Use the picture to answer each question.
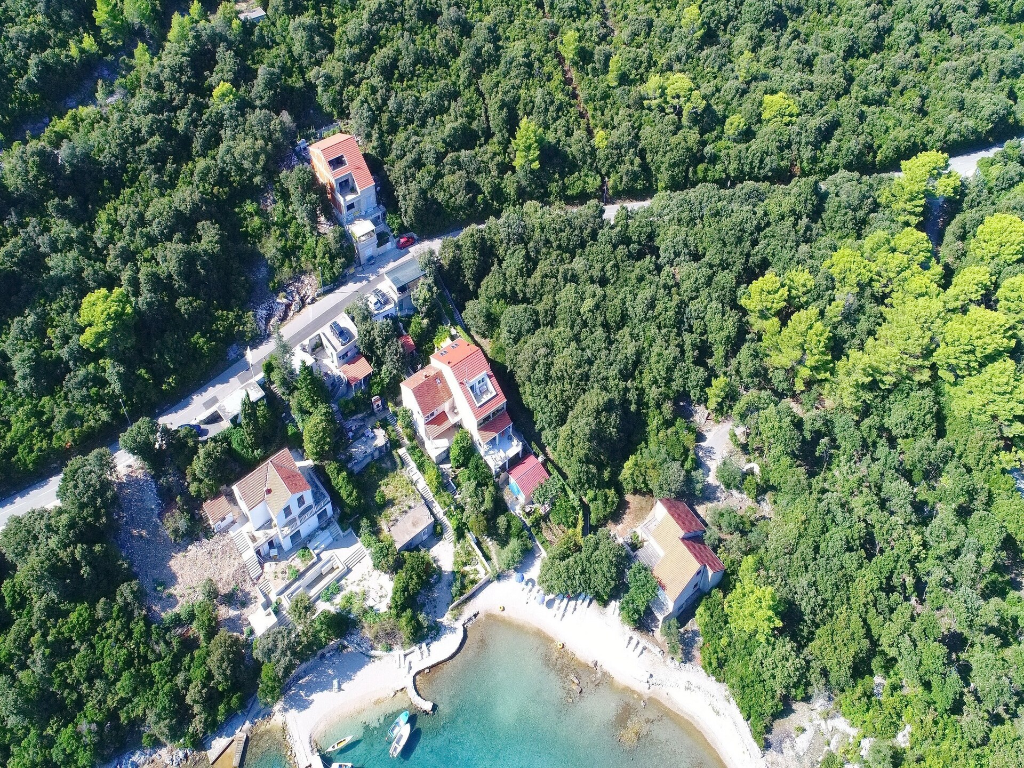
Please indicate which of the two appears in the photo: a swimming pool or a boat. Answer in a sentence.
The one in the frame is a boat.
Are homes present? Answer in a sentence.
Yes, the picture does show a home.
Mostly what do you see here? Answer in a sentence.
The largest share of the image is taken up by trees.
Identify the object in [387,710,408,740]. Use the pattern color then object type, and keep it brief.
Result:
white boat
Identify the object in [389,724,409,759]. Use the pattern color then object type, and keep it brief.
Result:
white boat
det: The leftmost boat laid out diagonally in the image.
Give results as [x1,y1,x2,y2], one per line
[326,734,353,753]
